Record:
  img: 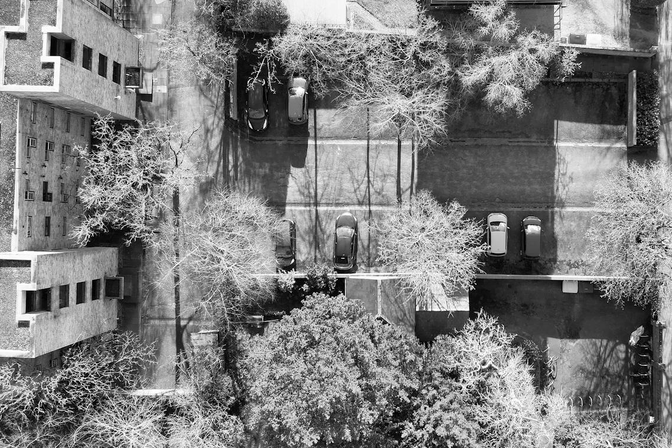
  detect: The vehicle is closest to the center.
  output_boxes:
[334,215,358,268]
